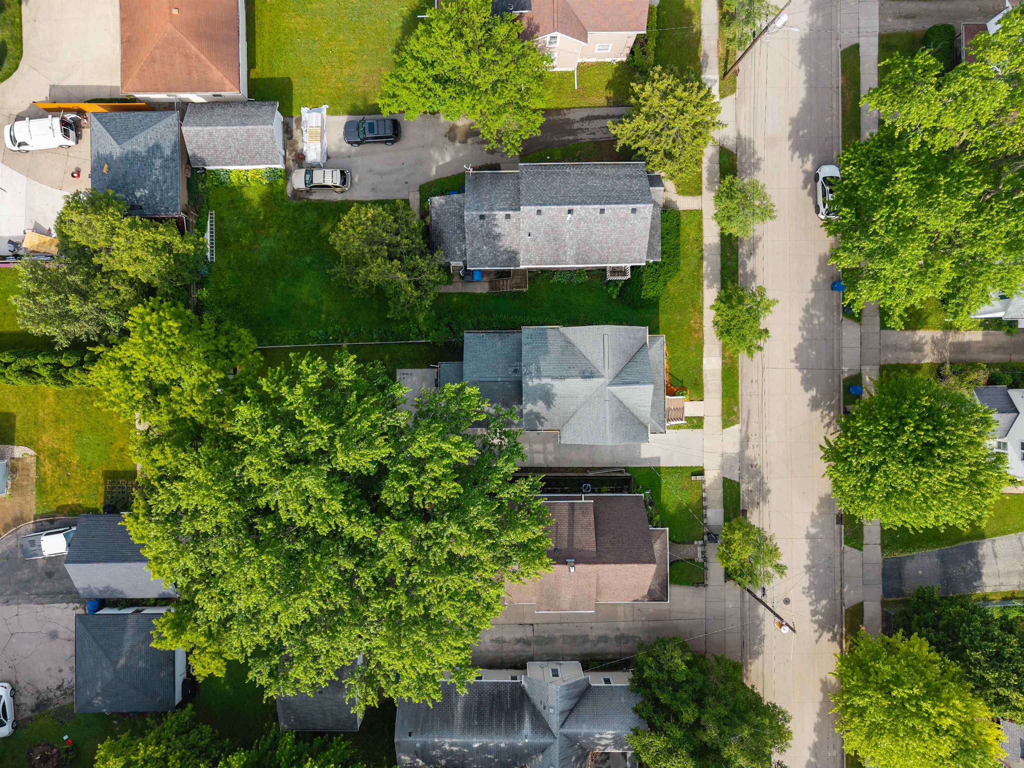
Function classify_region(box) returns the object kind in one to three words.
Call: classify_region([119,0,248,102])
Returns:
house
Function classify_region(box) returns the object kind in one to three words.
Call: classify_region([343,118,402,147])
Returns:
car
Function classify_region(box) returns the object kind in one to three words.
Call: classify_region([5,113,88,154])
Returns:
van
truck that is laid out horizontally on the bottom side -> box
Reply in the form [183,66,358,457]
[20,524,77,558]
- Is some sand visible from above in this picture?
No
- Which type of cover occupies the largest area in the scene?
trees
